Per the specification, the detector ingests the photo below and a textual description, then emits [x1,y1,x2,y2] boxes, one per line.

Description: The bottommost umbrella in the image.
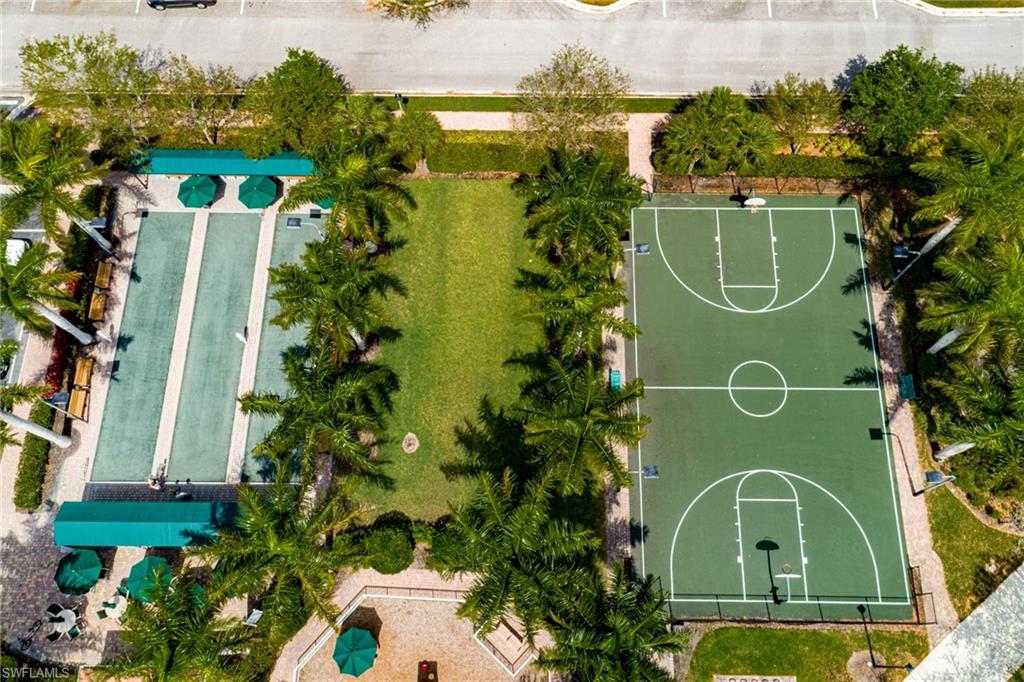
[331,625,381,677]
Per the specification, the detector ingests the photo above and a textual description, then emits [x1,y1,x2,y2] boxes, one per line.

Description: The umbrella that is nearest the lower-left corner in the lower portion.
[58,548,107,598]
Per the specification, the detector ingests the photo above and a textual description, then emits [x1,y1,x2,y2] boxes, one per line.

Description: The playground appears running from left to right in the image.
[297,595,550,682]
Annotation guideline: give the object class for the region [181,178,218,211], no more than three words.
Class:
umbrella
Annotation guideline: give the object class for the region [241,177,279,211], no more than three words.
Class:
umbrella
